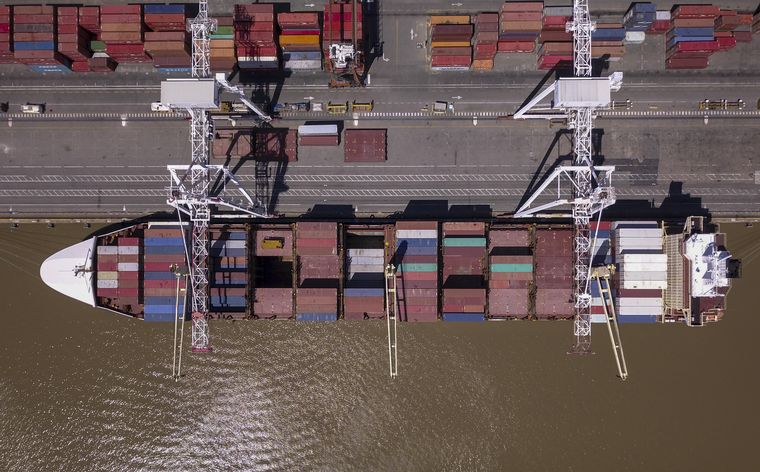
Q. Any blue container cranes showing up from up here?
No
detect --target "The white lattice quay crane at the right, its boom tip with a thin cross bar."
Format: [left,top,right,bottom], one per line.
[499,0,620,351]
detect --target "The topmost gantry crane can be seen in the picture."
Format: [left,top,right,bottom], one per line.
[327,0,366,85]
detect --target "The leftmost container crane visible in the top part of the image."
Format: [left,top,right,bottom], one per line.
[161,0,281,353]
